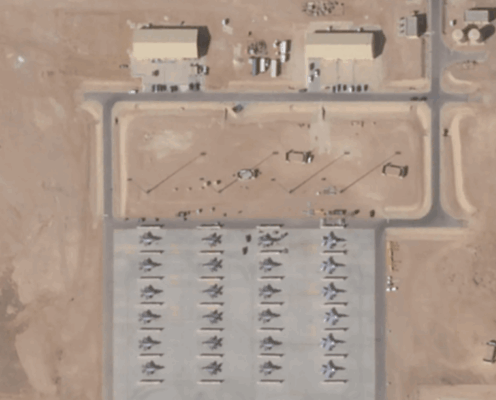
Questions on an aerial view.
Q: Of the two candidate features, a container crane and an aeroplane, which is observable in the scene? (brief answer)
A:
aeroplane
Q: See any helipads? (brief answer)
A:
No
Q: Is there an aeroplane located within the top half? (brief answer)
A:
No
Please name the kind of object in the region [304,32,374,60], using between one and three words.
hangar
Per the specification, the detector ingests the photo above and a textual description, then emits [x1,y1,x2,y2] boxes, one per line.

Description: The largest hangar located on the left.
[131,28,200,61]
